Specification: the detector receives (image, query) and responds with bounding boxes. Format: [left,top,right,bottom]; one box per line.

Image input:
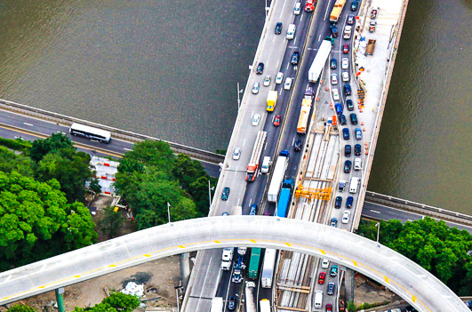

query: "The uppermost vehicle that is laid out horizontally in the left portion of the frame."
[70,125,111,145]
